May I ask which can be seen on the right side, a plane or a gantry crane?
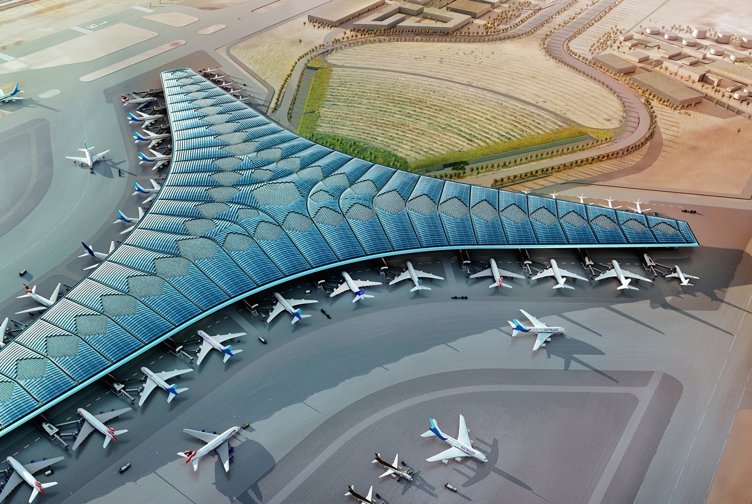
plane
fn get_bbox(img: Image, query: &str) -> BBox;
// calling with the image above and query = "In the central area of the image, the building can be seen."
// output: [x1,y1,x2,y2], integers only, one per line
[0,65,706,433]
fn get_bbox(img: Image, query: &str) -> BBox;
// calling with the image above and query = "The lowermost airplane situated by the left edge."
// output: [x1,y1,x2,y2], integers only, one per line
[1,459,65,504]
